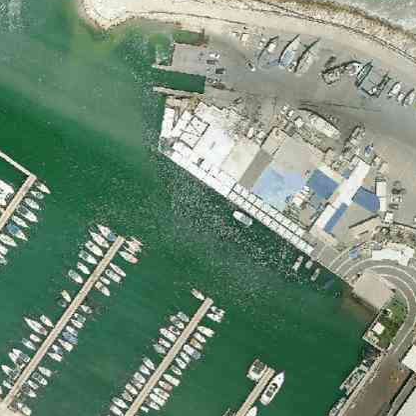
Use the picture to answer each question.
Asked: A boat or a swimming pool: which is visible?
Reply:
boat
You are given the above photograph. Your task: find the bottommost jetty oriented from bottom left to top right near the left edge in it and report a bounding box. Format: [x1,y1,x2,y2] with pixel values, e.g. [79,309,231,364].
[3,236,124,405]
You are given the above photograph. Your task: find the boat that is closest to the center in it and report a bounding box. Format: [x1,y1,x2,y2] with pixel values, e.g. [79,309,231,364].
[234,212,255,228]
